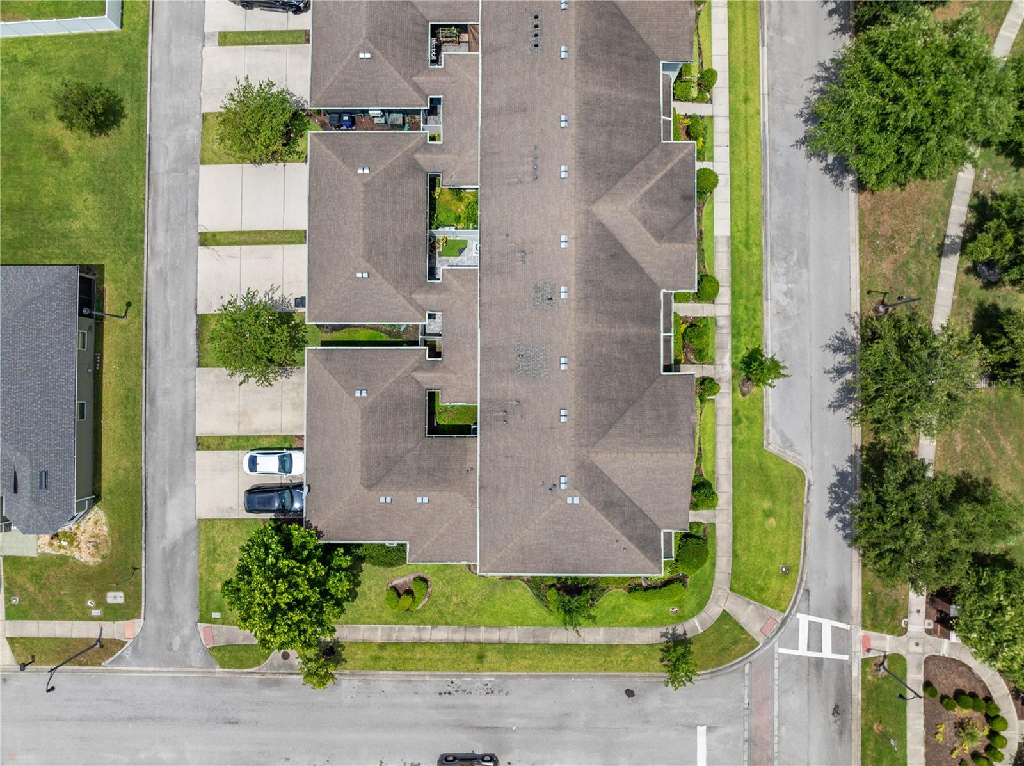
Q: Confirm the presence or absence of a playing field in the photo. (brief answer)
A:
No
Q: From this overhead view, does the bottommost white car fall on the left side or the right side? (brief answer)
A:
left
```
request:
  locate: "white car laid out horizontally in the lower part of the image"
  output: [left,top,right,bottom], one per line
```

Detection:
[242,447,306,478]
